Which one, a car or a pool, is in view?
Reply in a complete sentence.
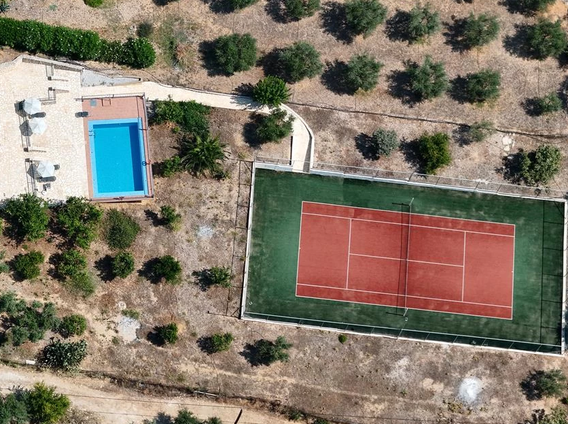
This aerial view contains a pool.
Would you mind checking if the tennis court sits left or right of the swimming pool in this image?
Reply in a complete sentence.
In the image, the tennis court sits on the right side of the swimming pool.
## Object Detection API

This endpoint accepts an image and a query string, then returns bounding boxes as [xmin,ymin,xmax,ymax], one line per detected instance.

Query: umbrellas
[22,98,41,116]
[35,159,54,179]
[28,118,46,136]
